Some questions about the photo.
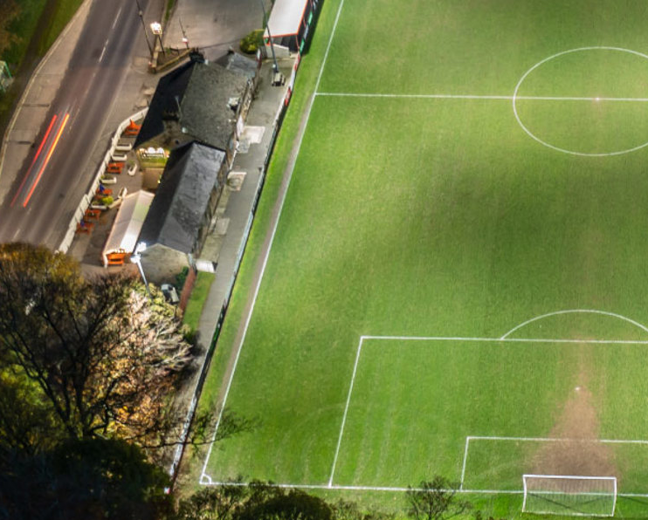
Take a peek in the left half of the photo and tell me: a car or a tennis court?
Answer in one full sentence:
There is a car in the left half of the photo.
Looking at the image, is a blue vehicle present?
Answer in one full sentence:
No, there isn't any blue vehicle down there.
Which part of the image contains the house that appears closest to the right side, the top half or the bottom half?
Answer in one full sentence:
You can find the house that appears closest to the right side in the top half.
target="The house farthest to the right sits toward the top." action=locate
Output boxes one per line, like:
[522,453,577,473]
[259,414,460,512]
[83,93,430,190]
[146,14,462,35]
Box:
[132,36,254,282]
